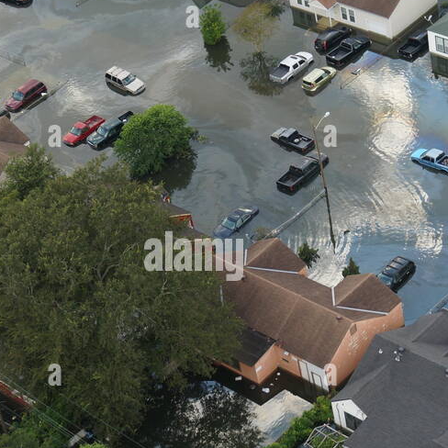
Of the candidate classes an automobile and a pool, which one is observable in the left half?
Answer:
automobile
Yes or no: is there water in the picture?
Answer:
Yes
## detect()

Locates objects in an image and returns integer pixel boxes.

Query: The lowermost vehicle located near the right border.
[376,246,427,286]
